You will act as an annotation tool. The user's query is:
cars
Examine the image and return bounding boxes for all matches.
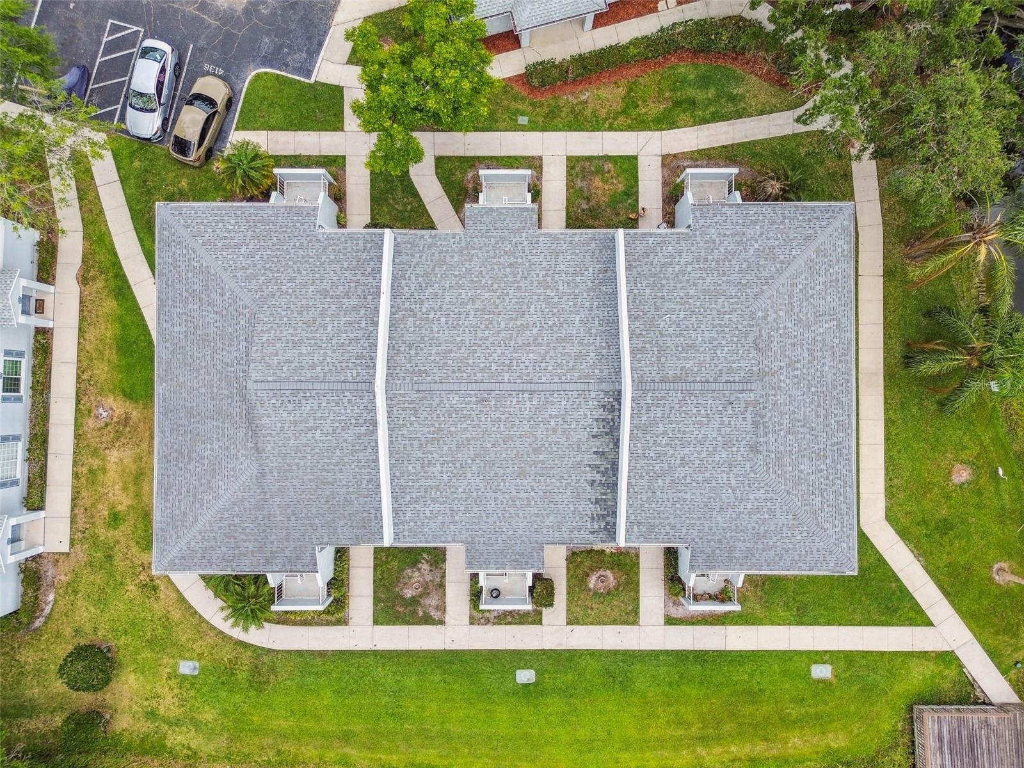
[164,73,233,168]
[118,36,180,142]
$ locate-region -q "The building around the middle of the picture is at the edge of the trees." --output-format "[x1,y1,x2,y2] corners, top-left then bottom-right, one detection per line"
[150,168,859,610]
